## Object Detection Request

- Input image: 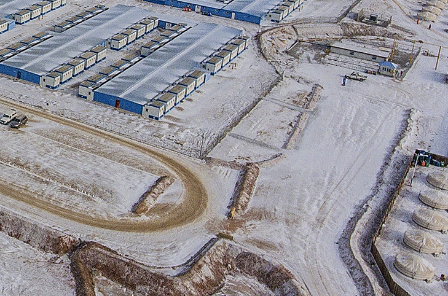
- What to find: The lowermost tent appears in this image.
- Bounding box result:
[390,251,441,284]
